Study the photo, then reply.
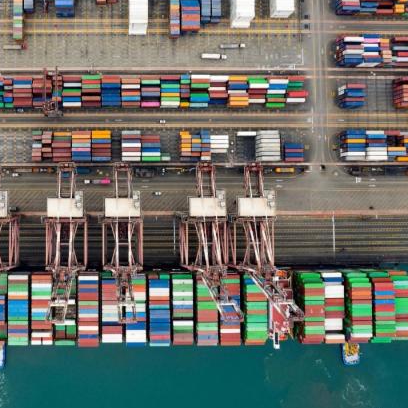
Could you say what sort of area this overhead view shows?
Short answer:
port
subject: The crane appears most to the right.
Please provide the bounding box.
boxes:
[217,159,305,323]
